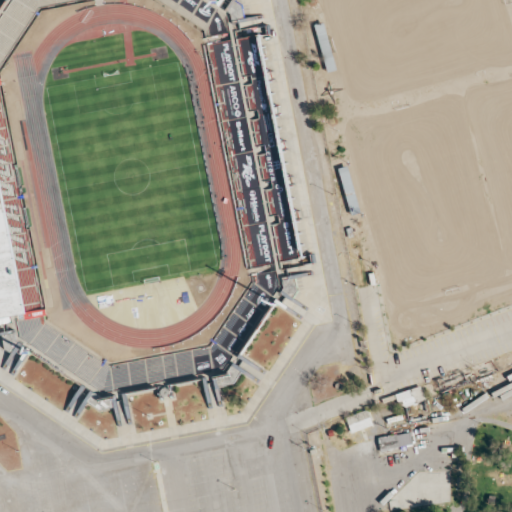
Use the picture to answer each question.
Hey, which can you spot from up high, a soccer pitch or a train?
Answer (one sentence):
The one in the frame is a soccer pitch.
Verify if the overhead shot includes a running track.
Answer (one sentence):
Yes, a running track can be made out from above.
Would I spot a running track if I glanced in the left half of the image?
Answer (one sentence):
Yes, in the left half of the image there is a running track.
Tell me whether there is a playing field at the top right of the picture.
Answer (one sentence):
Yes, a playing field shows up at the top right of the picture.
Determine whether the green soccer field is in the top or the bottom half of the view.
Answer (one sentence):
The green soccer field is in the top half of the image.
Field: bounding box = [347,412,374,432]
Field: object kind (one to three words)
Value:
house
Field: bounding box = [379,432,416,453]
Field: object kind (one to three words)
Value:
building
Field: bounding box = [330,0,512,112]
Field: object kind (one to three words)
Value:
sports field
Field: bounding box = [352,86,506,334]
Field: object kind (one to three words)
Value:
sports field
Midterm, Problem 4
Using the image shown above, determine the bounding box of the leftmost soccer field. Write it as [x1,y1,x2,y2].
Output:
[45,26,222,294]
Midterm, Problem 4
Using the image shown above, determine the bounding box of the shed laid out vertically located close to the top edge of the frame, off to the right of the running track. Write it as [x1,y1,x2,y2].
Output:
[314,24,336,72]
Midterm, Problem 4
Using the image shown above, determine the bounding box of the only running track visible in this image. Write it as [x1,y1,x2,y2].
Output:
[16,5,242,348]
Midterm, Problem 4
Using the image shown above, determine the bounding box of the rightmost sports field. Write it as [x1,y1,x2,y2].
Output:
[470,72,512,268]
